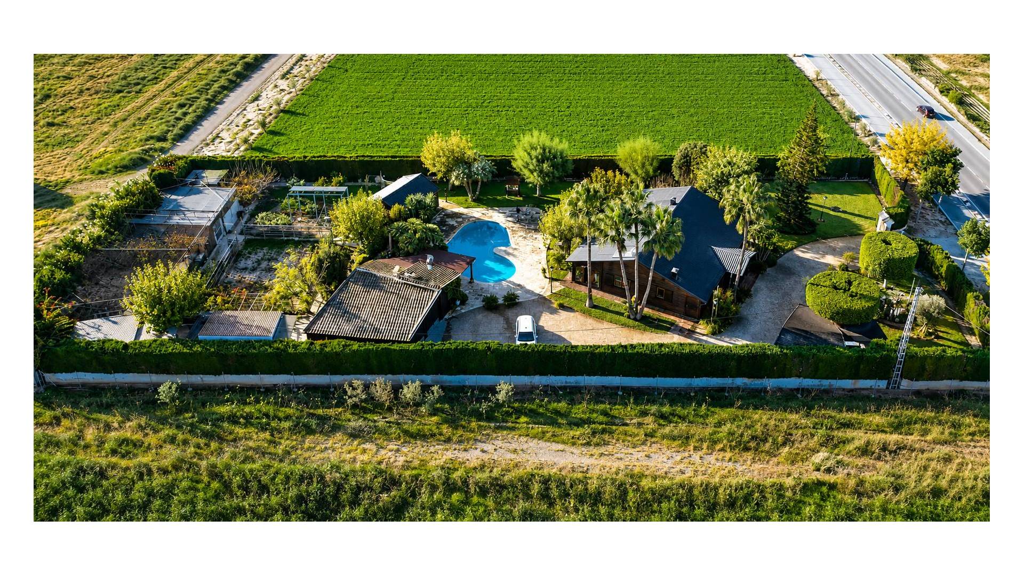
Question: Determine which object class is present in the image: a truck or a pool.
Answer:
pool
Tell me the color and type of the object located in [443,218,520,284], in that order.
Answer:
blue swimming pool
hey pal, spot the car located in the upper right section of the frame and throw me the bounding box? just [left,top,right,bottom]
[913,106,938,122]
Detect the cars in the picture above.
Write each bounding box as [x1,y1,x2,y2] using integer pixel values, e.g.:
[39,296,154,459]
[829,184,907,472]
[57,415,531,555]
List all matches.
[514,316,539,347]
[913,106,938,122]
